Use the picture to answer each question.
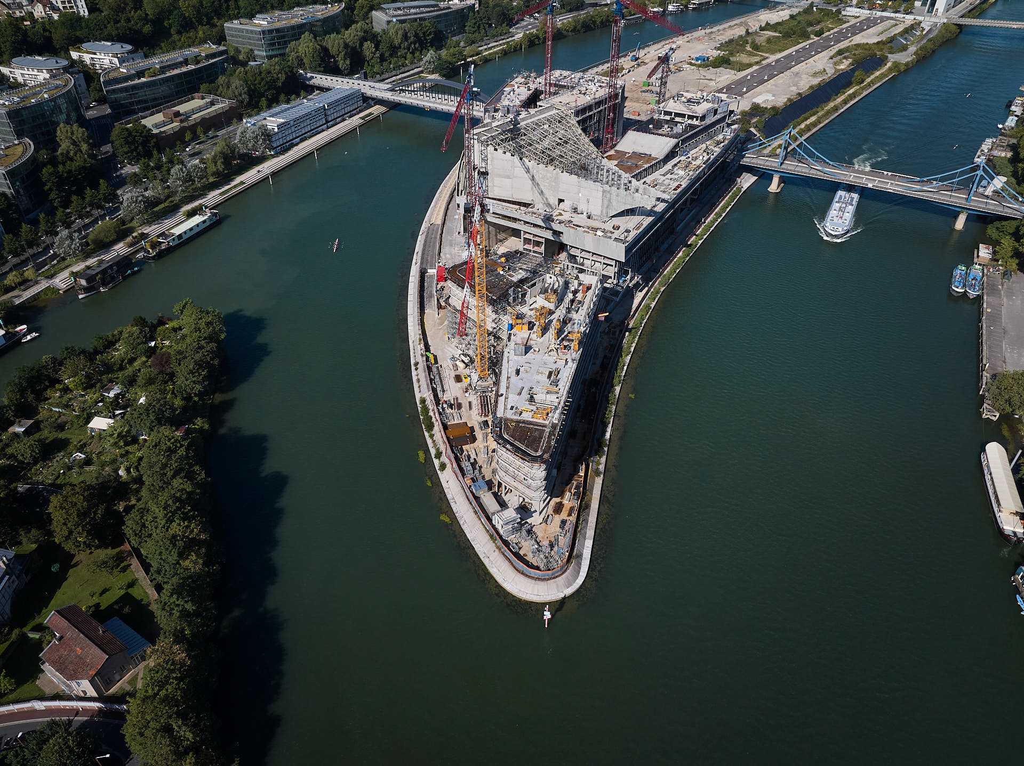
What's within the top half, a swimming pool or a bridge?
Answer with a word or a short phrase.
bridge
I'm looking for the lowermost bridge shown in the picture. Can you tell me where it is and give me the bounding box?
[727,130,1024,227]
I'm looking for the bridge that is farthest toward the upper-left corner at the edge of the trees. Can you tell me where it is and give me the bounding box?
[302,73,488,122]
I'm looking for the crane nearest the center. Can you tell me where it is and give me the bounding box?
[456,175,496,379]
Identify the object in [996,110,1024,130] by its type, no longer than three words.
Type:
vessel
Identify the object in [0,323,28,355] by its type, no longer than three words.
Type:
boat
